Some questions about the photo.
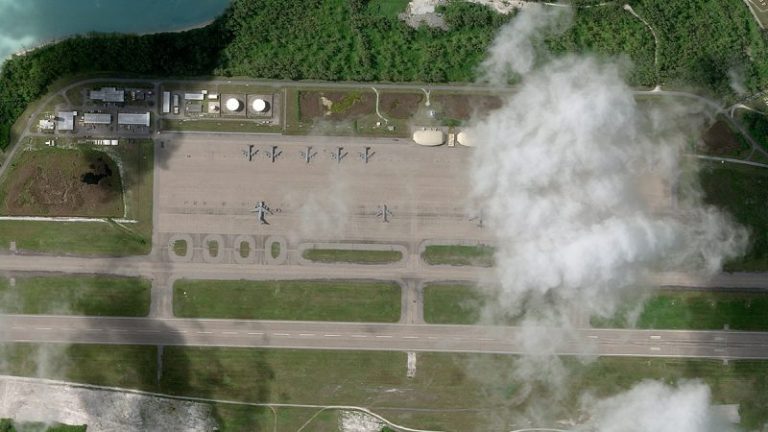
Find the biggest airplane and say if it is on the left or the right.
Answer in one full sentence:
The biggest airplane is on the left side of the image.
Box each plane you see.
[242,145,258,161]
[376,205,394,222]
[331,147,347,164]
[358,147,375,164]
[266,146,282,163]
[249,202,272,224]
[300,146,316,164]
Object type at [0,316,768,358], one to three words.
runway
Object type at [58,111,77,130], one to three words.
building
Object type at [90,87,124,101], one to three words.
building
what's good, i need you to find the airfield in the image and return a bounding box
[0,133,768,382]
